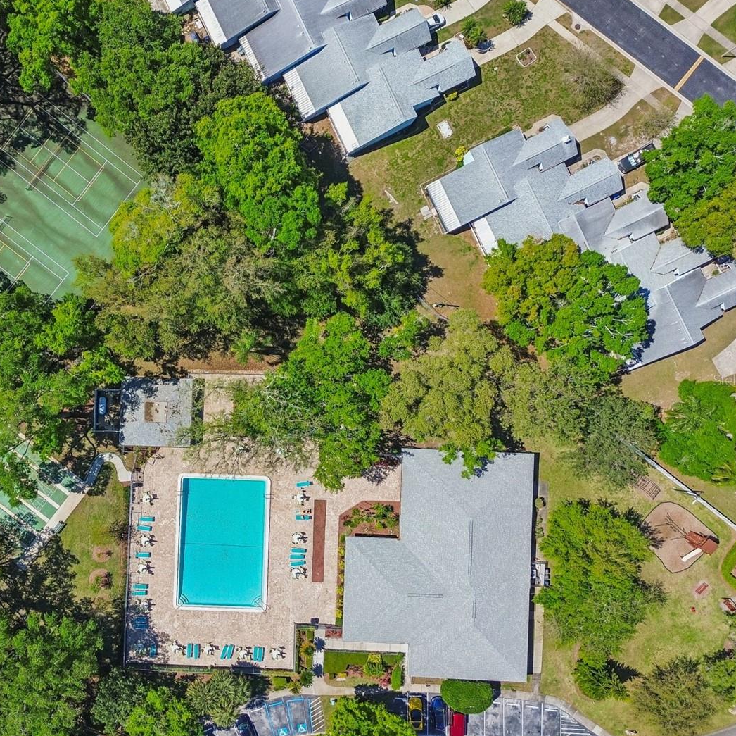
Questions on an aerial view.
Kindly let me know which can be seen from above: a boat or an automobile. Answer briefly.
automobile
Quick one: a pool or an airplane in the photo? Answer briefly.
pool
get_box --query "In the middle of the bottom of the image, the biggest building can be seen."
[342,448,535,682]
